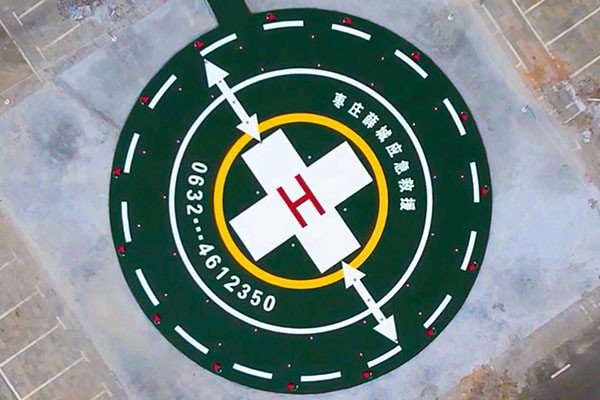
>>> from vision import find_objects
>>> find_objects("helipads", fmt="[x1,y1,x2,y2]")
[108,0,493,395]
